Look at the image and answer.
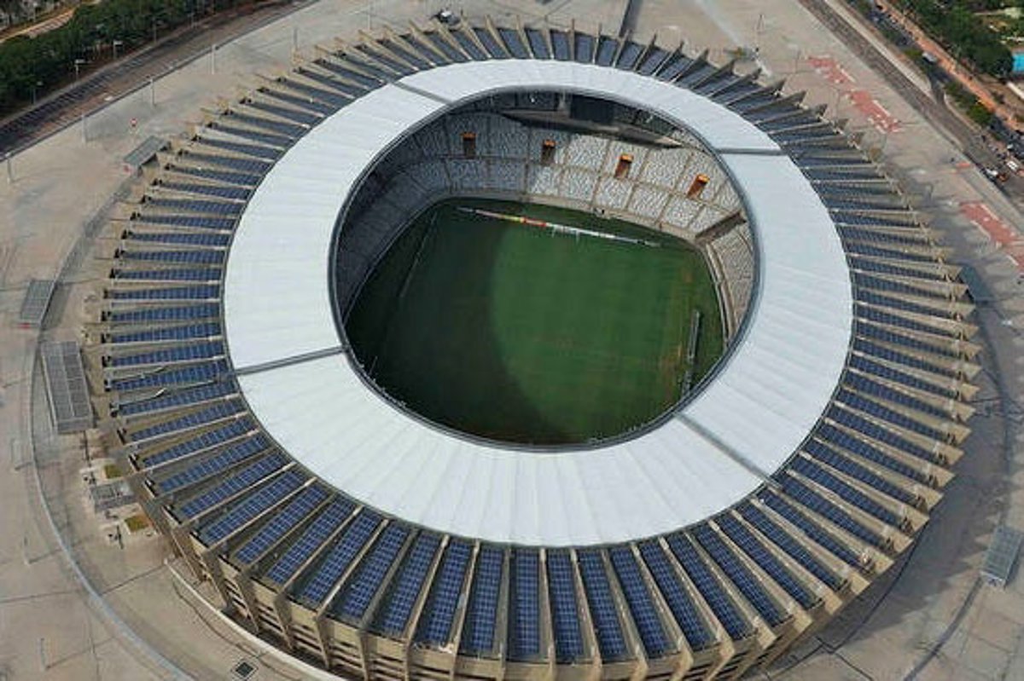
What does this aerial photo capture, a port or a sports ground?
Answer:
sports ground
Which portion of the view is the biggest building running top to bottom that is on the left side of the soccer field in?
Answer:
left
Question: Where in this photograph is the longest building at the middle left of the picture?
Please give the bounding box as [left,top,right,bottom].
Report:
[39,340,96,442]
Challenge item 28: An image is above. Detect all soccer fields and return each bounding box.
[345,195,724,443]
